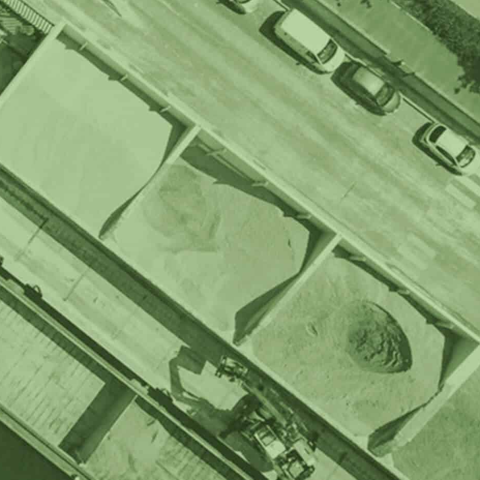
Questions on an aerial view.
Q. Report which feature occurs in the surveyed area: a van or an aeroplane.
van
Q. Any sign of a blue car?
No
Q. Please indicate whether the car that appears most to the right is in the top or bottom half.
top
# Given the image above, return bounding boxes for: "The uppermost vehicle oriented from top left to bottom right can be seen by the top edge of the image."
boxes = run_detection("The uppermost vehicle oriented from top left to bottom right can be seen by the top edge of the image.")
[272,9,346,72]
